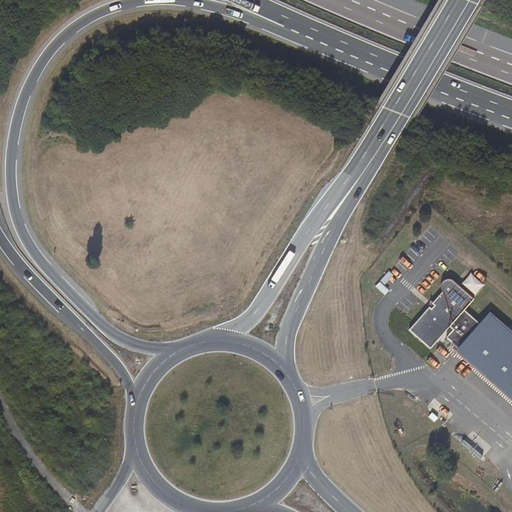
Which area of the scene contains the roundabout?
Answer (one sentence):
Look in the bottom portion of the view to spot the roundabout.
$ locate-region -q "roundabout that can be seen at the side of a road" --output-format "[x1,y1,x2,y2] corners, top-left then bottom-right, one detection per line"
[124,328,316,512]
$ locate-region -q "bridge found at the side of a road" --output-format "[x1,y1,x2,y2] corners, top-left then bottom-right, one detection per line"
[373,0,483,130]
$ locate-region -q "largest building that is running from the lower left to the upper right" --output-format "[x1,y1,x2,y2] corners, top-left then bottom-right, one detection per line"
[410,279,474,348]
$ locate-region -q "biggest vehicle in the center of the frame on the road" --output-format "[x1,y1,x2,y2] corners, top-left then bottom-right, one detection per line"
[268,248,294,287]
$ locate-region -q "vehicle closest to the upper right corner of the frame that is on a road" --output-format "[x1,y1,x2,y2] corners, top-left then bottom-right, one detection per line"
[457,44,478,56]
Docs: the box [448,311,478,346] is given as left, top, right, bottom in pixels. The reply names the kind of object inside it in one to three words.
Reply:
building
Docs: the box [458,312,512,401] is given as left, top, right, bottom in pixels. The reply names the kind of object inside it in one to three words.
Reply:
hangar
